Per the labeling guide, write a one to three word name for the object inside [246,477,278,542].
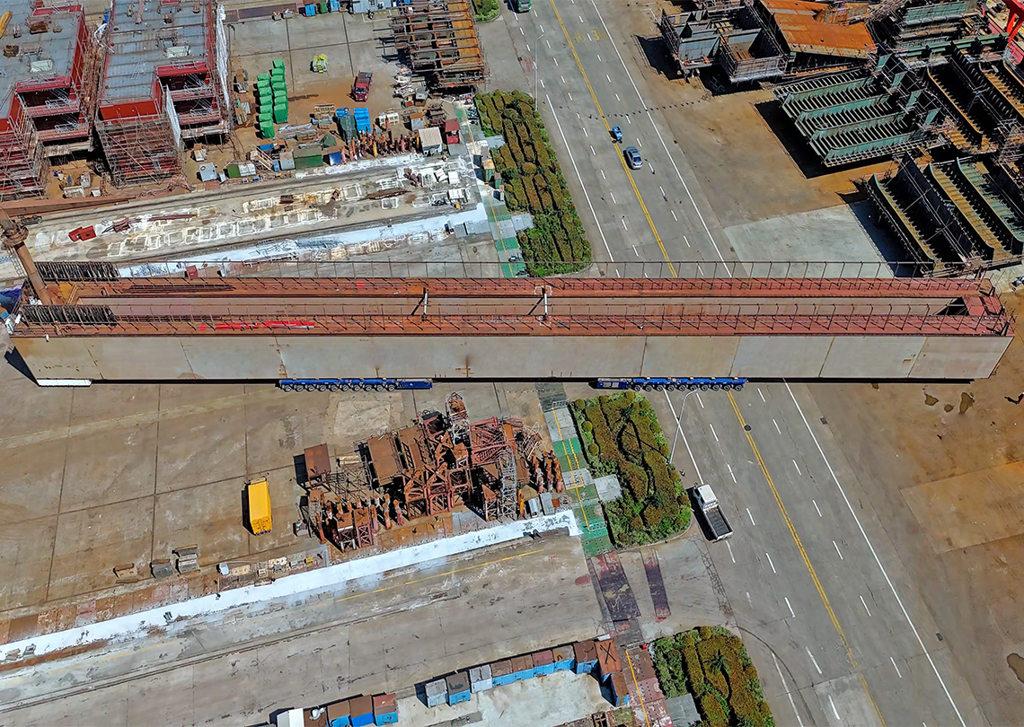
shipping container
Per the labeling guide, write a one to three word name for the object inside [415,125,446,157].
shed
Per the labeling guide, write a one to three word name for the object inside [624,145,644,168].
car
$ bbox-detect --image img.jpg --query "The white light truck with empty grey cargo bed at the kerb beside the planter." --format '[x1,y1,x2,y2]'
[691,481,734,540]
